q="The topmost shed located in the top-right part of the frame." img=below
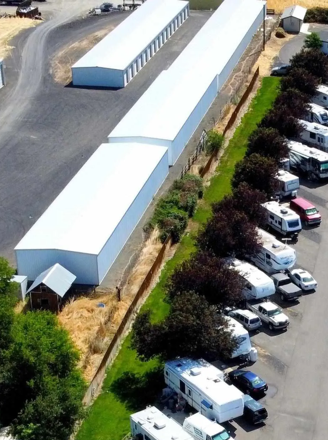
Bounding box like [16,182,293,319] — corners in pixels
[280,9,310,32]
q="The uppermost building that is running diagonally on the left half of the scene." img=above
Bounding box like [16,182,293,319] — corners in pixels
[71,0,190,87]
